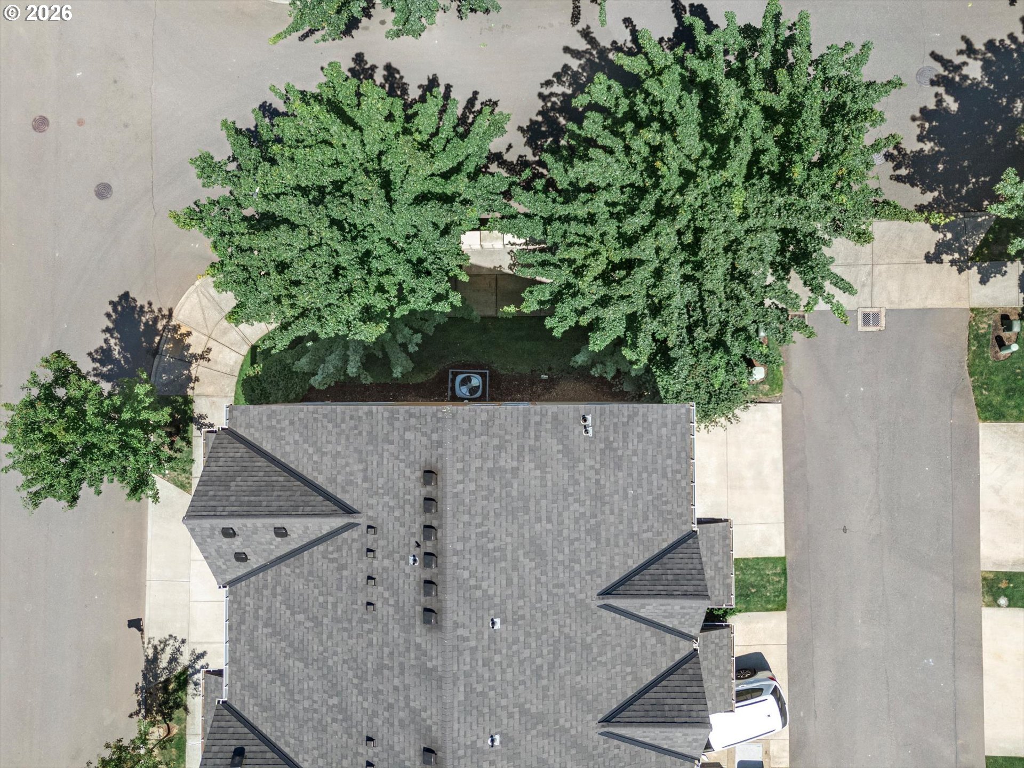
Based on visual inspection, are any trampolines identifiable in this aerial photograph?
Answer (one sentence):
No, there's no trampoline here.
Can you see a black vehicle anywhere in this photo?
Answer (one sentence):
No, the frame has no black vehicle in it.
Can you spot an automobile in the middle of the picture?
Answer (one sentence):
No, there's no automobile to be seen in the middle of the picture.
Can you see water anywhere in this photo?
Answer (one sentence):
No, water can't be seen anywhere here.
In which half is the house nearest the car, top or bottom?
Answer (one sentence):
The bottom half of the photo is where the house nearest the car is.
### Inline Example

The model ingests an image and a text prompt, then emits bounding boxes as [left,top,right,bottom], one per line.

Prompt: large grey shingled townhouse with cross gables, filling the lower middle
[181,398,735,768]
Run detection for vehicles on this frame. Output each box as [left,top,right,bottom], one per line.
[704,667,787,750]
